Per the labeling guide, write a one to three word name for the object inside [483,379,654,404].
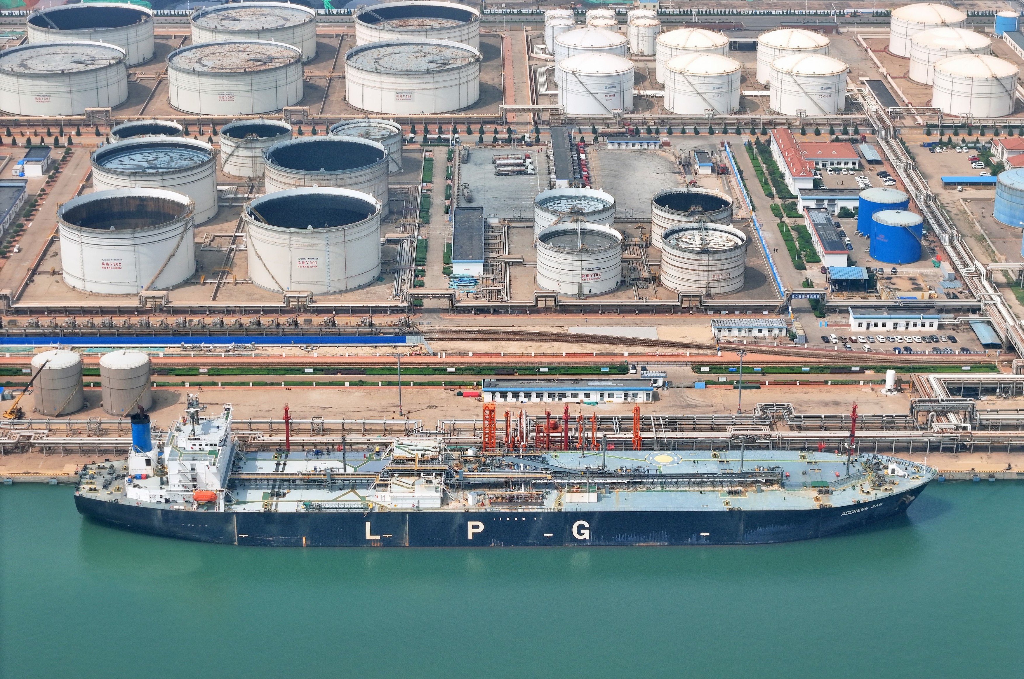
building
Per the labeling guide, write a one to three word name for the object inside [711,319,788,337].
building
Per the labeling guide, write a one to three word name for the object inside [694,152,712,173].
house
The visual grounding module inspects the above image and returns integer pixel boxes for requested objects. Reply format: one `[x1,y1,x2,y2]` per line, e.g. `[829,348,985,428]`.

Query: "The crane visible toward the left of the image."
[0,353,48,416]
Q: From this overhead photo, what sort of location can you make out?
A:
industrial area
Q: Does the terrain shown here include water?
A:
Yes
